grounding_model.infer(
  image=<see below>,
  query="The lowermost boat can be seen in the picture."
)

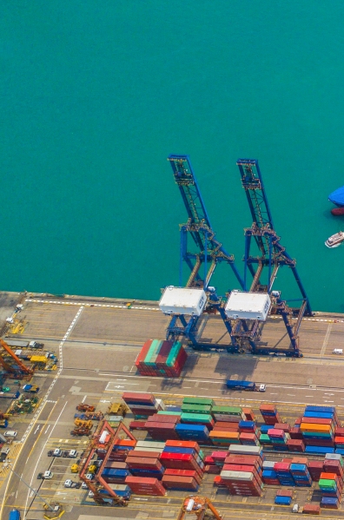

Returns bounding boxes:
[326,231,344,245]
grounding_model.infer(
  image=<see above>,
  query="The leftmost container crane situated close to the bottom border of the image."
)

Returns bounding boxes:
[76,420,144,506]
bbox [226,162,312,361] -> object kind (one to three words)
container crane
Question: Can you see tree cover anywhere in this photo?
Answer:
No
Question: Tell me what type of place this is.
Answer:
port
